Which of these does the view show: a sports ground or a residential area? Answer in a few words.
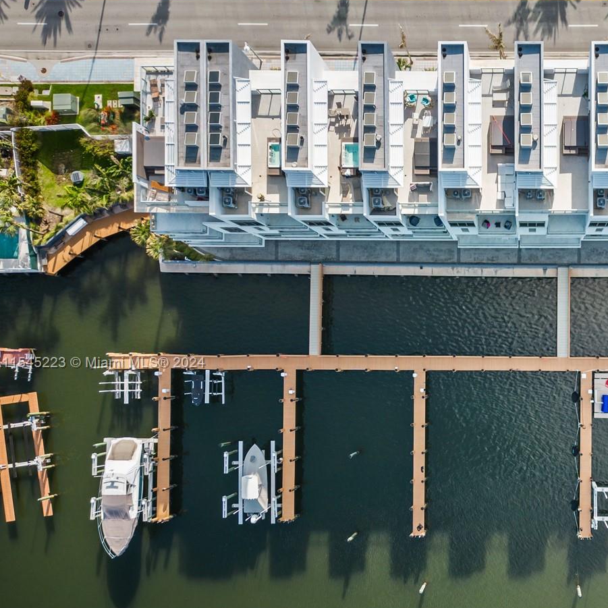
residential area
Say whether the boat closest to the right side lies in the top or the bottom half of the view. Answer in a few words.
bottom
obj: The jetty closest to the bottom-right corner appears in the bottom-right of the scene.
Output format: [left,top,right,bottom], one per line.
[576,372,596,541]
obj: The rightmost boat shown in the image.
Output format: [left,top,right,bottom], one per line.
[241,444,269,525]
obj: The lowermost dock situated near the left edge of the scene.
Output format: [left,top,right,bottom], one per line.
[0,392,76,522]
